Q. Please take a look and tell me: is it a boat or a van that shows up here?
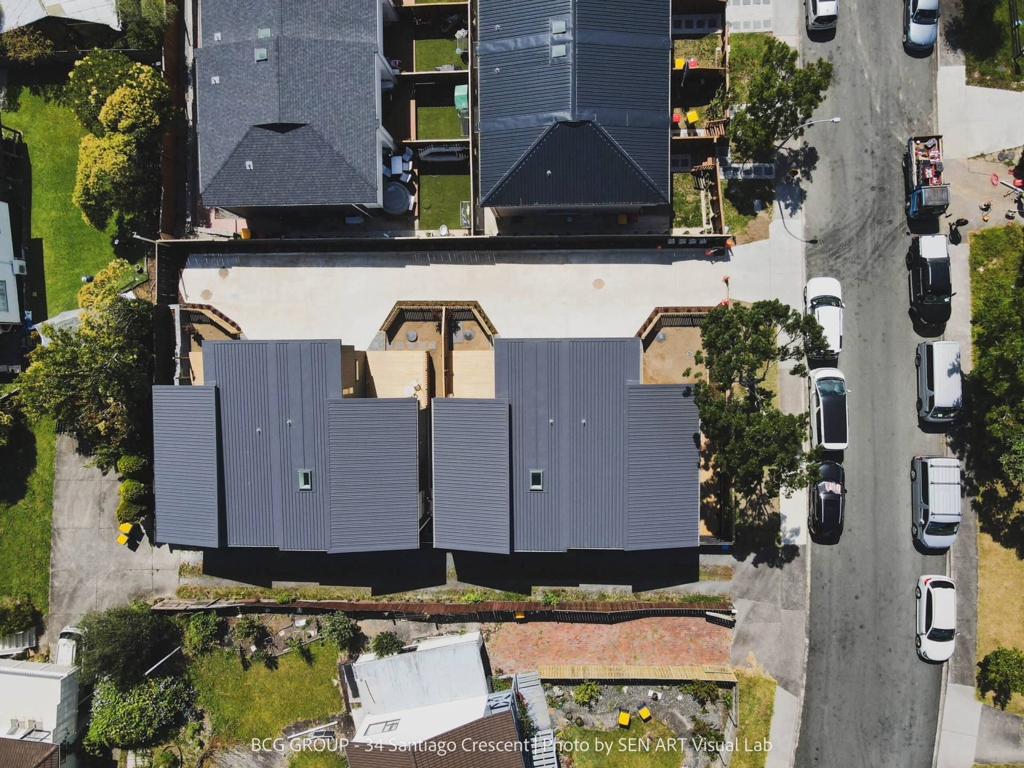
van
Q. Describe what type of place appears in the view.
residential area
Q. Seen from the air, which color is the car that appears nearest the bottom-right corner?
white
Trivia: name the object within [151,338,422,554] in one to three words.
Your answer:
house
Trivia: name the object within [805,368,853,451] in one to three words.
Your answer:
car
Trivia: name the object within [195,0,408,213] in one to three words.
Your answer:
house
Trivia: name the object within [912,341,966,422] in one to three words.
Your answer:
van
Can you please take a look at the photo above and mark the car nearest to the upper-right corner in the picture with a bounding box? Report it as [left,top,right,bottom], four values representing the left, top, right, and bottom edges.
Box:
[896,0,946,56]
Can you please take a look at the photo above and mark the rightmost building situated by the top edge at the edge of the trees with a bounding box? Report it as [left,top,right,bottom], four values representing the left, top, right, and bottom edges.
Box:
[476,0,673,213]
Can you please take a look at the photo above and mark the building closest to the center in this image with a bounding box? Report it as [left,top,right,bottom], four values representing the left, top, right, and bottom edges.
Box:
[430,336,702,554]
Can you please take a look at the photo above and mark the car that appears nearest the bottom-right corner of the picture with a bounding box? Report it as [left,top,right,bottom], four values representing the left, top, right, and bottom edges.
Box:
[910,573,960,658]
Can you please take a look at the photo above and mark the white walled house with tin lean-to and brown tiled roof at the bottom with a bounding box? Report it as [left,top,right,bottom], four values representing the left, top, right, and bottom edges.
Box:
[343,630,535,768]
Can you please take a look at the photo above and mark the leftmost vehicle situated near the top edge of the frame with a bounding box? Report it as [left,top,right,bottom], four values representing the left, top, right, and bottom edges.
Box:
[798,0,840,33]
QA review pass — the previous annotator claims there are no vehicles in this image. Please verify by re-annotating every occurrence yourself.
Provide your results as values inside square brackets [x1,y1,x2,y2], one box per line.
[802,456,850,539]
[896,0,946,56]
[903,133,958,222]
[912,341,966,422]
[902,233,959,328]
[800,277,848,362]
[805,368,853,451]
[909,456,967,547]
[798,0,840,33]
[910,573,960,658]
